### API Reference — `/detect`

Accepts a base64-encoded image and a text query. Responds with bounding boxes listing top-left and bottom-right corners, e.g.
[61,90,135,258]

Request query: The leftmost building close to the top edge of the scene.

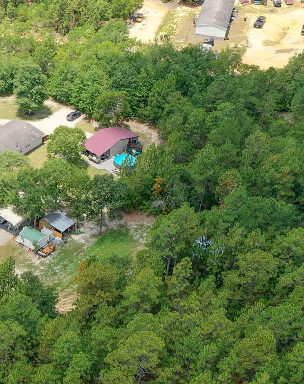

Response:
[191,0,240,39]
